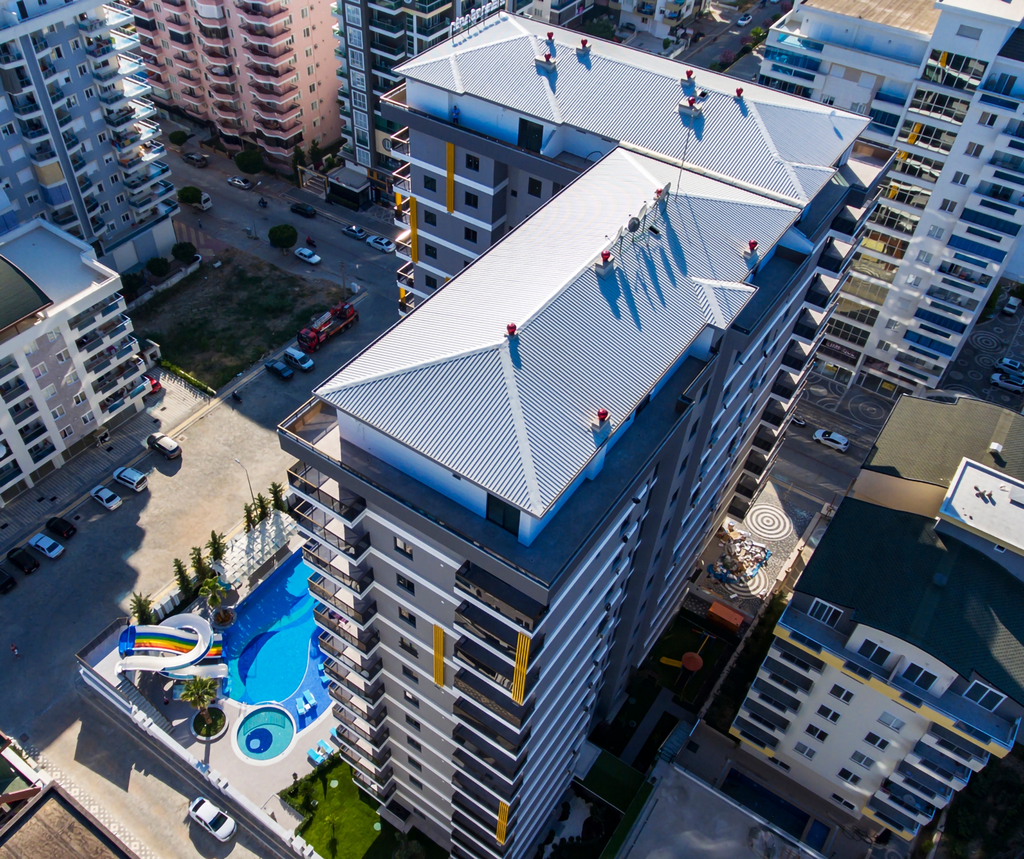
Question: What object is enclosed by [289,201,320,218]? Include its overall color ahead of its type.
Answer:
black car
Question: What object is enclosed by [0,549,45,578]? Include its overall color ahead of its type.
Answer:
black car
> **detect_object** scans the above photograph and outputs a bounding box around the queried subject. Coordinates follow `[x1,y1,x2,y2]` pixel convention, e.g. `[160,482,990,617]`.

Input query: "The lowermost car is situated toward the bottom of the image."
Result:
[179,798,240,847]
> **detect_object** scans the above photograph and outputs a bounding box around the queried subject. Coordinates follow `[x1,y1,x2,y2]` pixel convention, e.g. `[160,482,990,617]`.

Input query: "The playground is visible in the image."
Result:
[633,621,734,731]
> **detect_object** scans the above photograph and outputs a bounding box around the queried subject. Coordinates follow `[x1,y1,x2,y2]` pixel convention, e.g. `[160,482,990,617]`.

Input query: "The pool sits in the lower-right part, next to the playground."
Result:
[713,756,834,858]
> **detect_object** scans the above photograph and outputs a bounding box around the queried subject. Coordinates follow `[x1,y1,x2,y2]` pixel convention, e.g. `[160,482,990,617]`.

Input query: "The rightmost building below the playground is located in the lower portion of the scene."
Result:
[614,763,819,859]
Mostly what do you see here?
buildings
